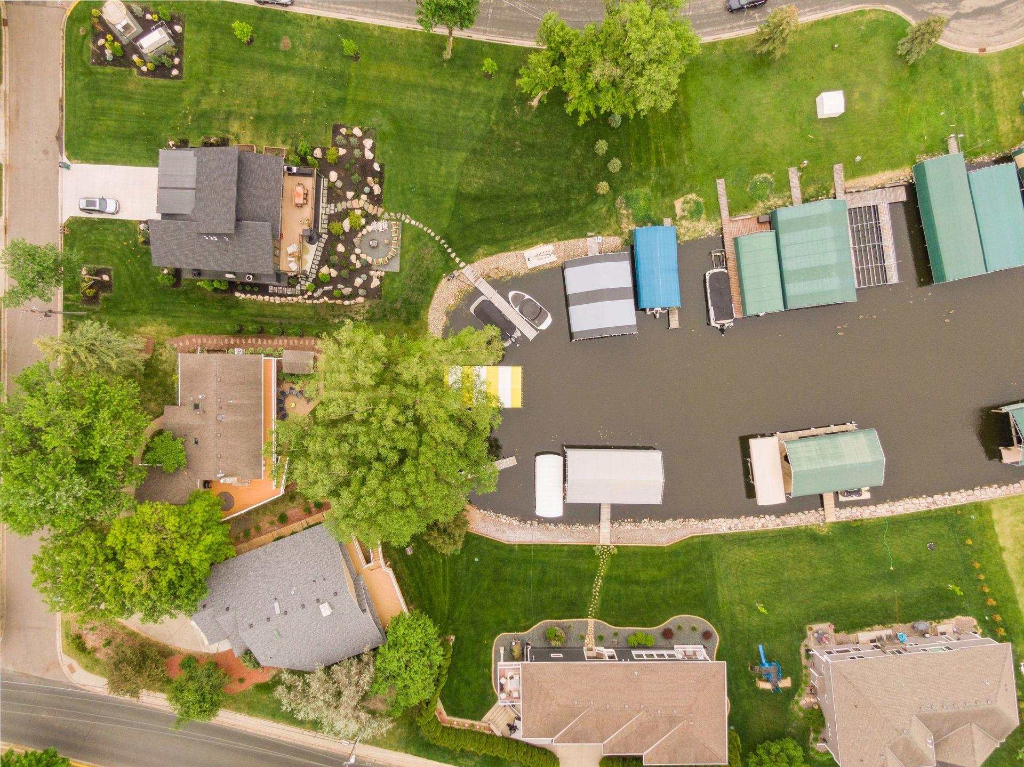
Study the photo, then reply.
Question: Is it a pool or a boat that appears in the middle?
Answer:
boat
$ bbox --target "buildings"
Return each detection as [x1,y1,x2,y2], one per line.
[481,633,728,765]
[135,353,288,522]
[148,146,323,286]
[804,627,1019,767]
[192,519,408,671]
[815,90,845,118]
[282,350,318,374]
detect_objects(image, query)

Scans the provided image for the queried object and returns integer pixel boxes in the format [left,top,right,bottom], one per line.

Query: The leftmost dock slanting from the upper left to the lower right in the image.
[460,264,540,341]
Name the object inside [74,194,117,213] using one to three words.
car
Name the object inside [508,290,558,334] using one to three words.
boat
